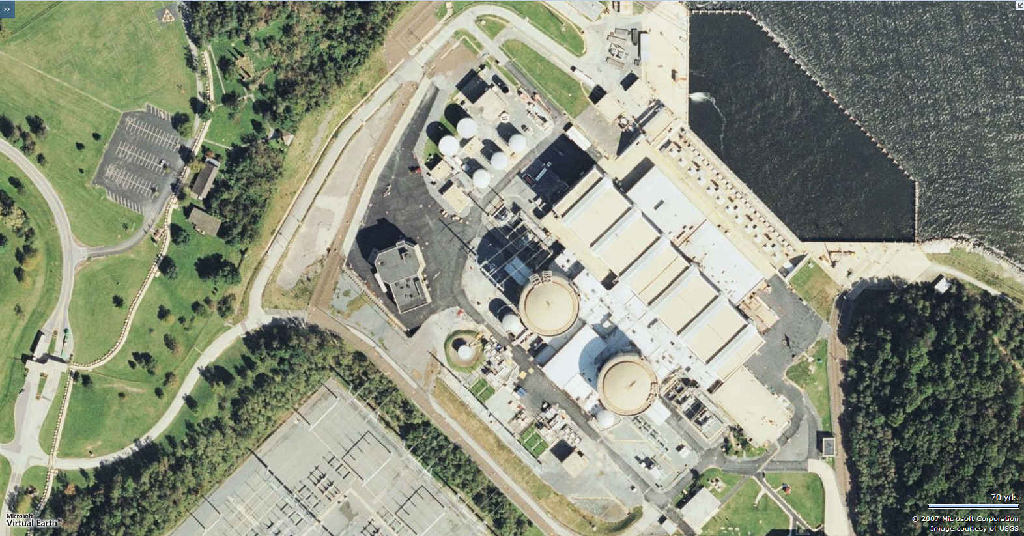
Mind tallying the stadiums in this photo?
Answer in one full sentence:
The photo contains no stadiums.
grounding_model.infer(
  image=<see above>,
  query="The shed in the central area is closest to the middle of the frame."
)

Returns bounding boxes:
[506,255,533,284]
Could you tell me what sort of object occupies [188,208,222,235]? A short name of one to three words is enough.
house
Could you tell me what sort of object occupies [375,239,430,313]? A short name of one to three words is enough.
building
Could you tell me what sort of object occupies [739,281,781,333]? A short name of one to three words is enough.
building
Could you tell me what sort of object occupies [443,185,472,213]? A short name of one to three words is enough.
shed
